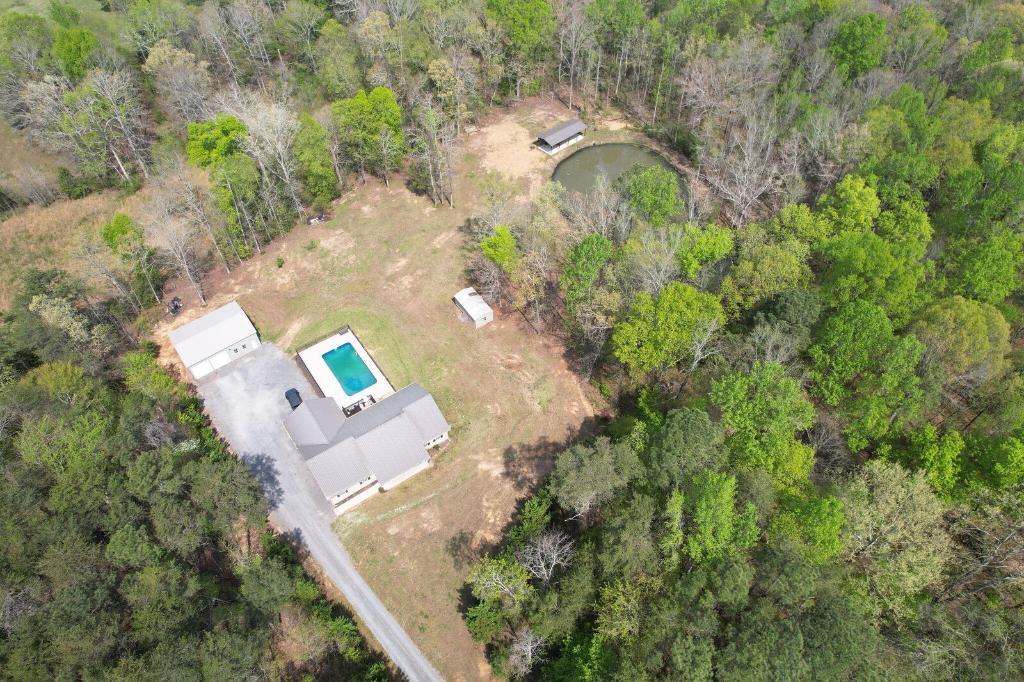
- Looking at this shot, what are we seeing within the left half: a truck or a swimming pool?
swimming pool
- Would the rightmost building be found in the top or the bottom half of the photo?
top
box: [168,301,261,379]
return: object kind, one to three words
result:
building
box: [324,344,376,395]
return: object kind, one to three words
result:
swimming pool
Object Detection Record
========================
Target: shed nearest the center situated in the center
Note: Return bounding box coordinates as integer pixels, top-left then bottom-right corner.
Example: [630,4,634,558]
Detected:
[454,287,494,328]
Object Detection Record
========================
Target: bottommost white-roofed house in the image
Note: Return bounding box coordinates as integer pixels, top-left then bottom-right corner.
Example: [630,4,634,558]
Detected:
[282,382,453,506]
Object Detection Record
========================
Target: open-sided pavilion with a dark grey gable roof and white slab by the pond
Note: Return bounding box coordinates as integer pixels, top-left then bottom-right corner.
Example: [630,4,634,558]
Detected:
[535,118,587,156]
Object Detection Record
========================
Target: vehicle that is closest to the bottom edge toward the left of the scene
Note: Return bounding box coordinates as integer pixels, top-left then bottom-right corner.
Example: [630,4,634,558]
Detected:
[286,389,303,410]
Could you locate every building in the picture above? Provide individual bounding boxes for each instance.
[168,301,261,379]
[454,287,494,328]
[282,382,453,506]
[535,118,587,156]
